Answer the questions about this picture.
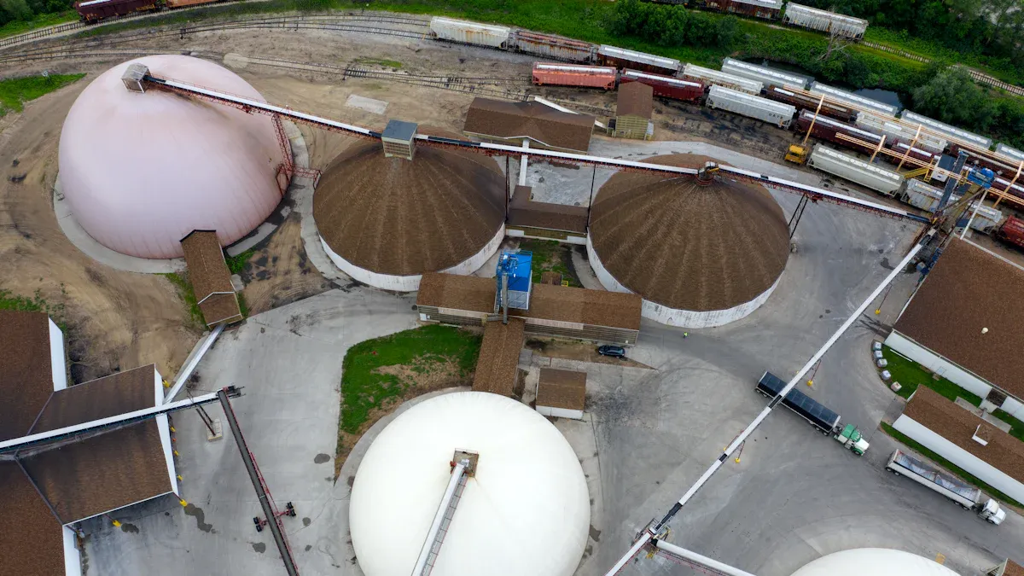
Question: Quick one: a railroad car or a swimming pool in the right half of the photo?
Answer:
railroad car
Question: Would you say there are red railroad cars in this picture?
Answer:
Yes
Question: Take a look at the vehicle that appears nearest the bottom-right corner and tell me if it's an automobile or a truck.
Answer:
truck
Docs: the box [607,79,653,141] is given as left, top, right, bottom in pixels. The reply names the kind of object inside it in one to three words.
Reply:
shed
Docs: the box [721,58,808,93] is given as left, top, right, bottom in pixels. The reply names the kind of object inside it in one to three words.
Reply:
rail car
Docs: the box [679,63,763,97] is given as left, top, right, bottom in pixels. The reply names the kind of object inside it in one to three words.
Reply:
rail car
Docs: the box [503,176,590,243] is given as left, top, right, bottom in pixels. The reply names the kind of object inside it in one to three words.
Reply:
building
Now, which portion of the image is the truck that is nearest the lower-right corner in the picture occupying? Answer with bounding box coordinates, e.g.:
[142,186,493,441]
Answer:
[886,447,1004,526]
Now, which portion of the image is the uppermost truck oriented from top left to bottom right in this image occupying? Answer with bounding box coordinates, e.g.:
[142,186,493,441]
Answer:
[755,373,868,457]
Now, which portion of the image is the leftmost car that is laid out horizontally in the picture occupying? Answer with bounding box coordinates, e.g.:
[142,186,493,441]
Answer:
[597,344,625,359]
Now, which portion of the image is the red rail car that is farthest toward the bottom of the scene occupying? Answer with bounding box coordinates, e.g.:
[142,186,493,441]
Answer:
[992,216,1024,249]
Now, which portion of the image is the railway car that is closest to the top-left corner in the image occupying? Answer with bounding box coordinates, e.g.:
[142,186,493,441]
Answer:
[76,0,167,23]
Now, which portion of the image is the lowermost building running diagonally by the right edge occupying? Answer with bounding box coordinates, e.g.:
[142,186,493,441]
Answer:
[894,383,1024,501]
